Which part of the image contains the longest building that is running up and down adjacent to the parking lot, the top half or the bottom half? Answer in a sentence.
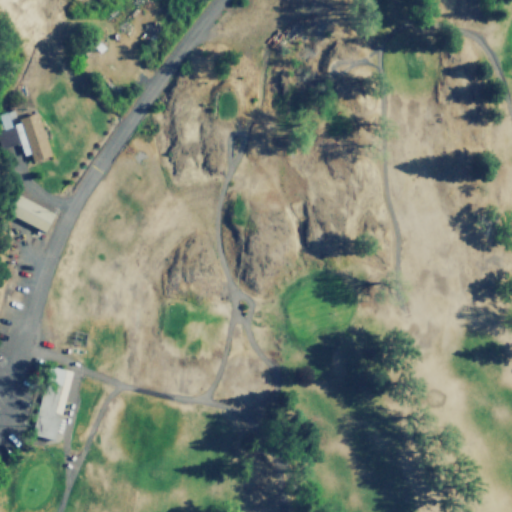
Seen from above, the longest building that is running up and down adjacent to the parking lot lies in the bottom half of the view.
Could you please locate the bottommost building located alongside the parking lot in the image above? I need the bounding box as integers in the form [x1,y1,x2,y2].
[37,369,74,442]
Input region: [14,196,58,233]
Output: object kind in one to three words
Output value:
building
